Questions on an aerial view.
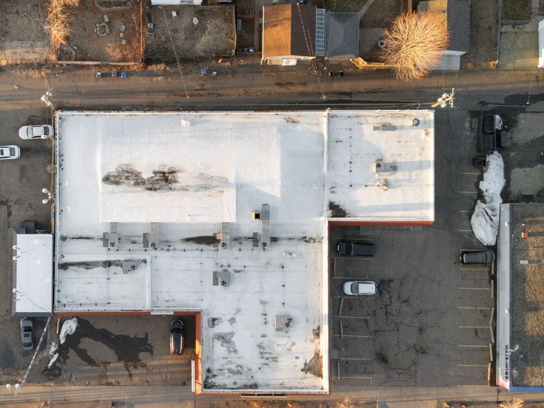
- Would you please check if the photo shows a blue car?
No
